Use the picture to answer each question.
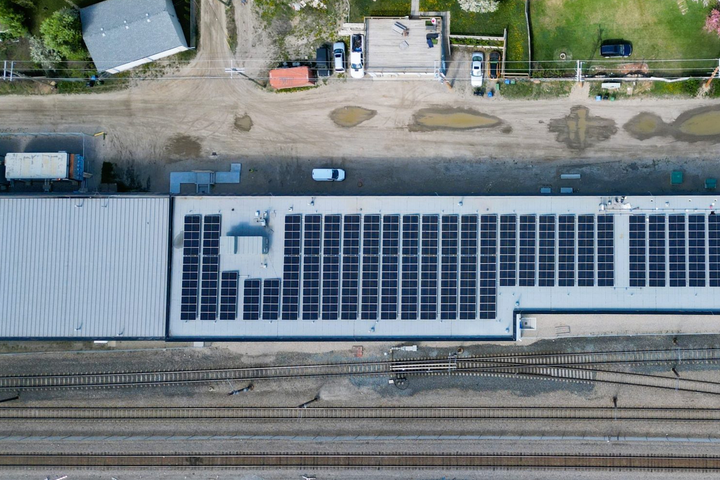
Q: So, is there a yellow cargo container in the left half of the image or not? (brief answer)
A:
No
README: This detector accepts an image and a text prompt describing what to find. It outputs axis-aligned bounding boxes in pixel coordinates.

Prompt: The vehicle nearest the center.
[310,168,345,182]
